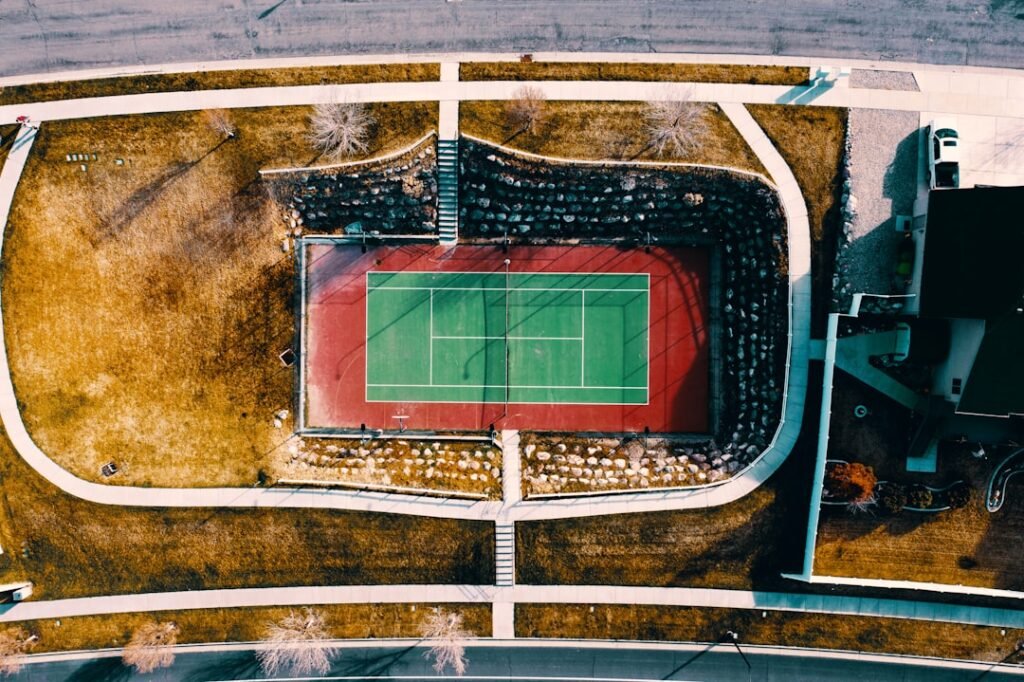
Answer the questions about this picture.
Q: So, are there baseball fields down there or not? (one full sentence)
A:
No, there isn't any baseball field down there.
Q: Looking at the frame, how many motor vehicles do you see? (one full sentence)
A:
Altogether the scene contains 1 motor vehicle.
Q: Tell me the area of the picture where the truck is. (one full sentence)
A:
The truck sits in the top right section of the image.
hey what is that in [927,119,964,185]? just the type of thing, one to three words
truck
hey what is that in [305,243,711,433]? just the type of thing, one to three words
tennis court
